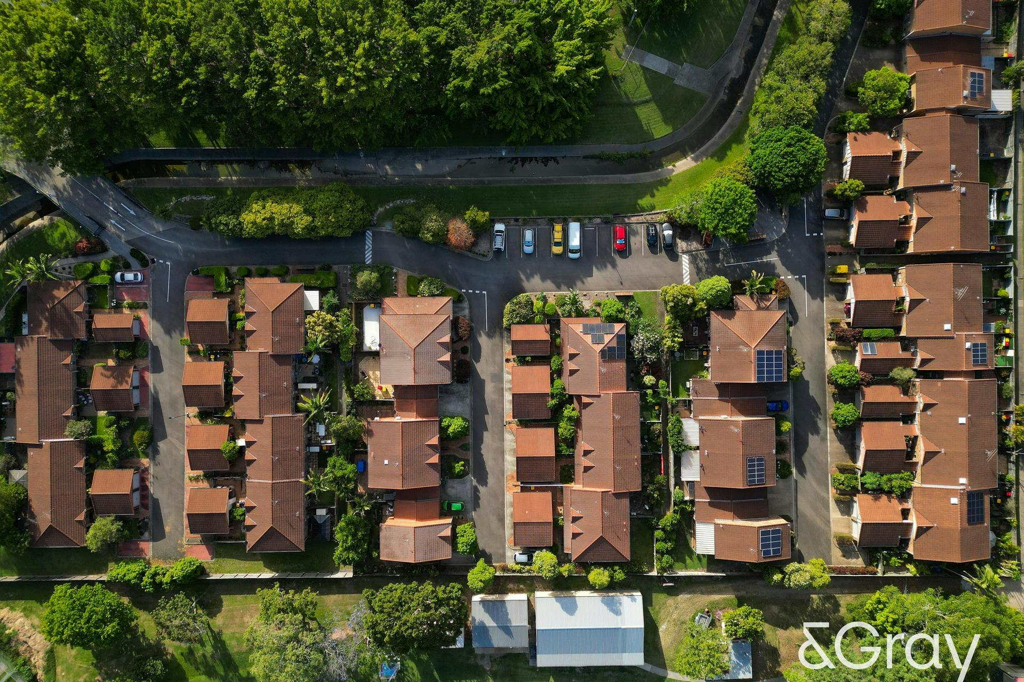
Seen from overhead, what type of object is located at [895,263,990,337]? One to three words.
house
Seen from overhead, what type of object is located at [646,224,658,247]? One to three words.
vehicle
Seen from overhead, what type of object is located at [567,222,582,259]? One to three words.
vehicle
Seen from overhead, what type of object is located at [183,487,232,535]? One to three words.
building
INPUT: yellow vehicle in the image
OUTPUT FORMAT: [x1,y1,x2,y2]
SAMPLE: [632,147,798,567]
[551,222,564,255]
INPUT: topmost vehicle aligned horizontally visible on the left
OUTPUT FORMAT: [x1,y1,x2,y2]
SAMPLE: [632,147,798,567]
[115,271,144,283]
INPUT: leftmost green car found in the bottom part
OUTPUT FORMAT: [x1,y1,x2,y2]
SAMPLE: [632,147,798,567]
[442,500,465,512]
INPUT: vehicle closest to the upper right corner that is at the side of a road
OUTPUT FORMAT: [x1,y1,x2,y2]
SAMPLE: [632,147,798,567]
[822,207,849,220]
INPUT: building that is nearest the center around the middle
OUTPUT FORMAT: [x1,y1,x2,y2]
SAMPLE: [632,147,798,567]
[510,324,551,356]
